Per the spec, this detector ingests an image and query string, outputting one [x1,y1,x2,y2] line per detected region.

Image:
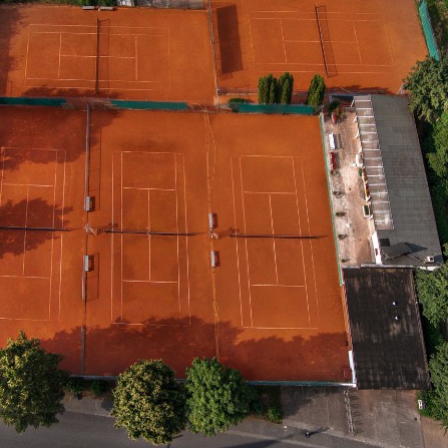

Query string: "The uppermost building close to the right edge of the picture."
[352,92,443,269]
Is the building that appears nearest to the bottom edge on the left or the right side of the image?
right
